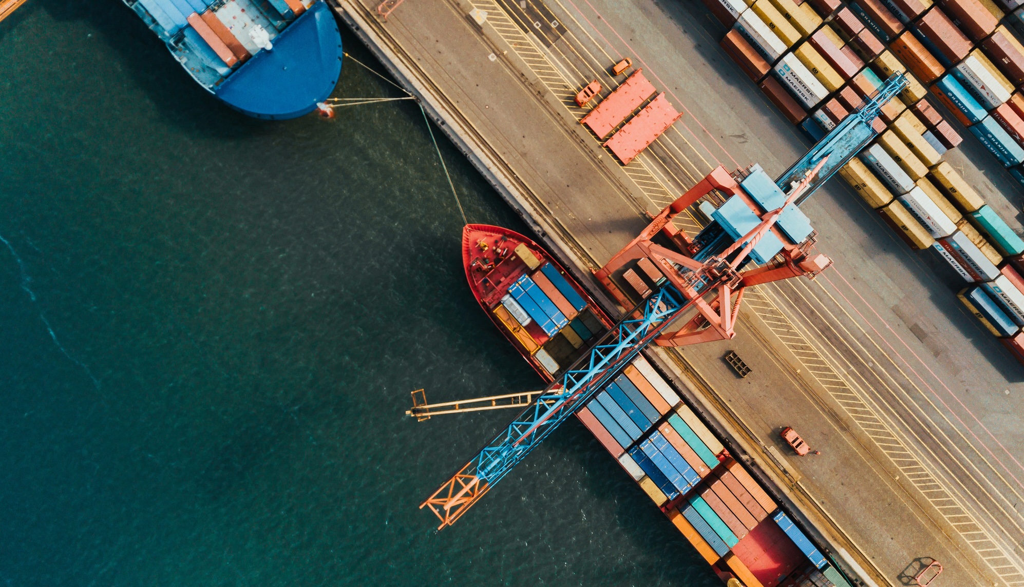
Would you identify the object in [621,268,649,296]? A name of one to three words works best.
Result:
shipping container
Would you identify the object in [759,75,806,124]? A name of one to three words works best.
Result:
shipping container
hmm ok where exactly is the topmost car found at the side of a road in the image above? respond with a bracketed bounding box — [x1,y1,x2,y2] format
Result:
[612,59,631,76]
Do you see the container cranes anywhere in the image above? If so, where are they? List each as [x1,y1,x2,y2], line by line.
[416,72,917,540]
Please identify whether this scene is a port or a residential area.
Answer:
port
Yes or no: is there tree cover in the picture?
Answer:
No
